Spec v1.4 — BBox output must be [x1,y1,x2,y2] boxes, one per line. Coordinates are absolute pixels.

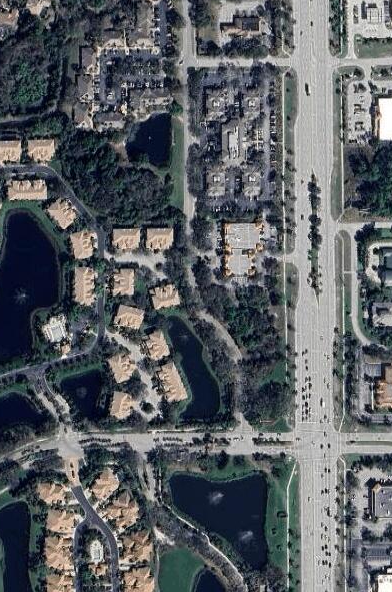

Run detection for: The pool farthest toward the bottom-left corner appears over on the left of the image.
[90,540,104,562]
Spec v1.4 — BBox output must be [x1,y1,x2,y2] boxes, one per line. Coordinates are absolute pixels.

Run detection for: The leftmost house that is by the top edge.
[0,8,20,29]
